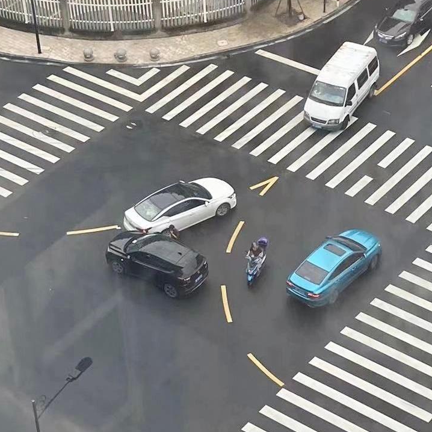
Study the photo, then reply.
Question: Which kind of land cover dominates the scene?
paved ground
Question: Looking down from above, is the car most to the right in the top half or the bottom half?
top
